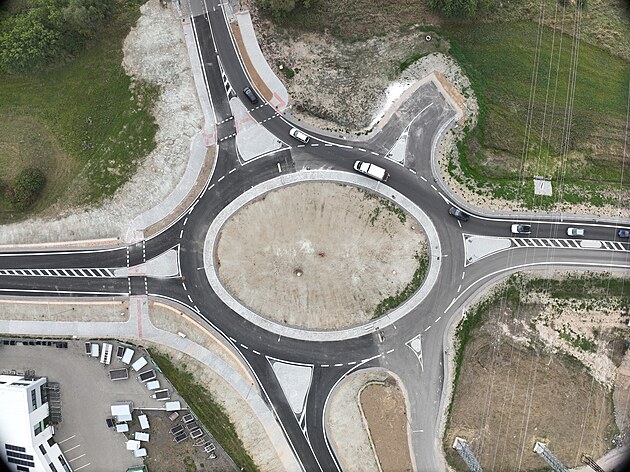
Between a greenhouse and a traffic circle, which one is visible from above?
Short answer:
traffic circle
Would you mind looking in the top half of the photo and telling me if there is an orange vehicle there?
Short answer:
No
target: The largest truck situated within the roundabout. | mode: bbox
[355,160,388,182]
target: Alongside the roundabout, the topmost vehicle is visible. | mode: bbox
[289,128,310,144]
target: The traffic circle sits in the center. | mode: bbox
[180,144,463,367]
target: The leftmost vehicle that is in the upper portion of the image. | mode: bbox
[243,86,258,105]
